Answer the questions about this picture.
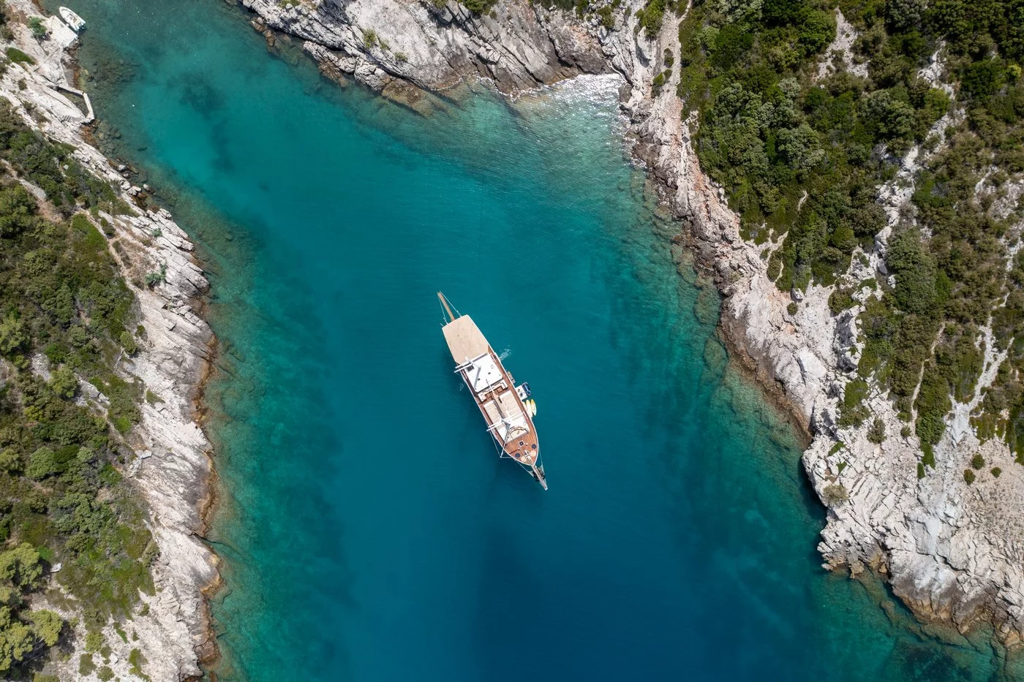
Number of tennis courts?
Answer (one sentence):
The photo contains no tennis courts.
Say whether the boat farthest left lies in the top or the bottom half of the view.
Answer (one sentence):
The top half of the photo is where the boat farthest left is.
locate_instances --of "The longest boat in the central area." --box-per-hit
[438,293,548,493]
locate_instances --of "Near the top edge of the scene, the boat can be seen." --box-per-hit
[58,5,87,35]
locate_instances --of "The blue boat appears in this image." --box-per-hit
[520,382,532,397]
